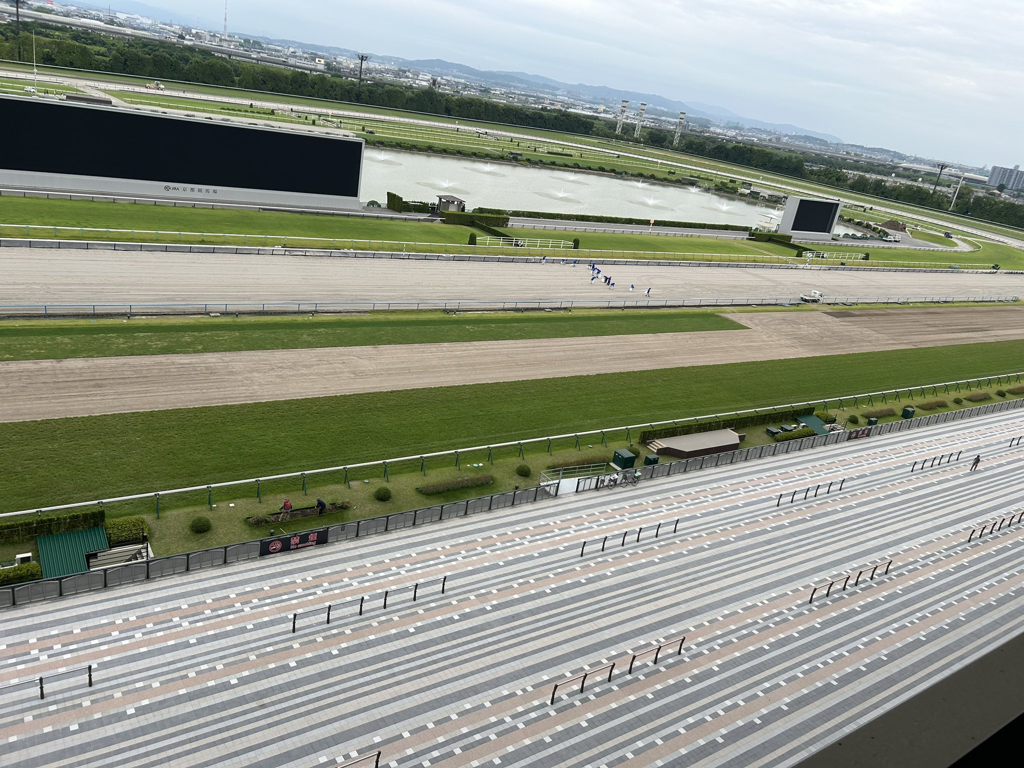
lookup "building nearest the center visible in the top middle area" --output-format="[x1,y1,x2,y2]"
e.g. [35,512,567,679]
[432,191,472,209]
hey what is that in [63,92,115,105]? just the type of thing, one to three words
shed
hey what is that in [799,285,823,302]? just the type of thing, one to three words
vehicle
